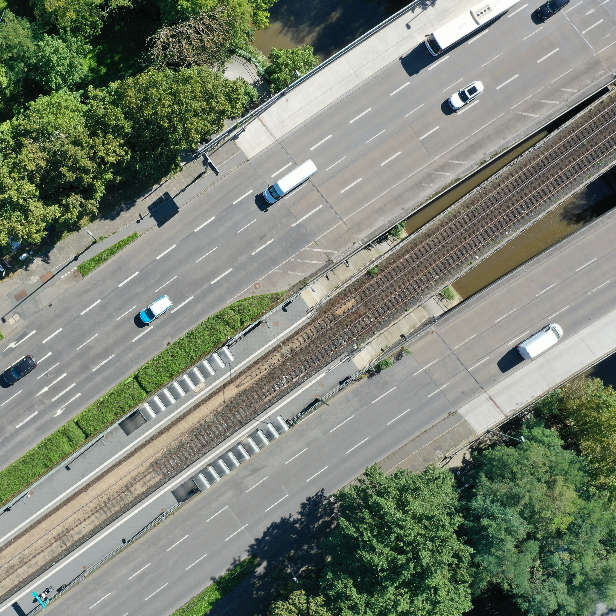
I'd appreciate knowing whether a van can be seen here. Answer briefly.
Yes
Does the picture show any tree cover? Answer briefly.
Yes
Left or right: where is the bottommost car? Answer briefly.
left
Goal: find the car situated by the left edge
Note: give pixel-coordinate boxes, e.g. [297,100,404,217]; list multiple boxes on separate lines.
[1,354,39,385]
